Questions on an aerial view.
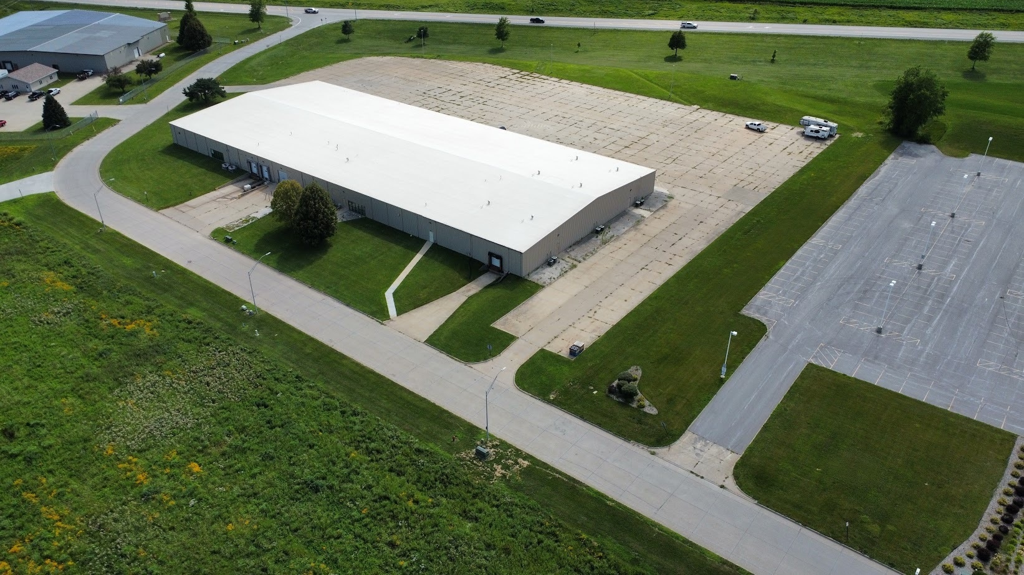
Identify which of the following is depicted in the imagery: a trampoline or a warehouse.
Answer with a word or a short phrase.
warehouse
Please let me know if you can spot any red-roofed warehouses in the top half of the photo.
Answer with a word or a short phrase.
No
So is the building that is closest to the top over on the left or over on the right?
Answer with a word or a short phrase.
left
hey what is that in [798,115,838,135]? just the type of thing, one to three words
camper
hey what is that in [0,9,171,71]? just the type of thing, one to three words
building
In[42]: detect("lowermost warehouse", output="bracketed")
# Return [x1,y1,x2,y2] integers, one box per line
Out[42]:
[169,81,658,277]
